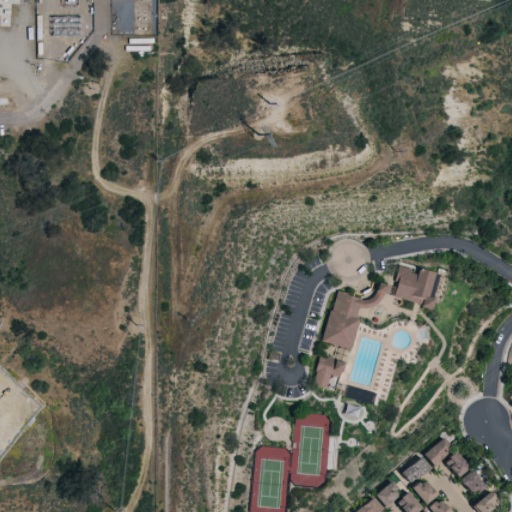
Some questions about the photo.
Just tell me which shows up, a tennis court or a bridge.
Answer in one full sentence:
This aerial view contains a tennis court.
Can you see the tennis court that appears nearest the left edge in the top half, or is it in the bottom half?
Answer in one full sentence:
It is in the bottom half that the tennis court that appears nearest the left edge appears.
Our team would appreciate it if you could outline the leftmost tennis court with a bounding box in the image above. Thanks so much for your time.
[250,446,292,512]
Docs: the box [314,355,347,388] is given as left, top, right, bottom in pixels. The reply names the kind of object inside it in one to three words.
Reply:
building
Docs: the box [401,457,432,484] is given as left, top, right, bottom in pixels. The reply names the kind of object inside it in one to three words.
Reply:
house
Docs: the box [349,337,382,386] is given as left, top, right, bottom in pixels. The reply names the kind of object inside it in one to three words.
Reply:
swimming pool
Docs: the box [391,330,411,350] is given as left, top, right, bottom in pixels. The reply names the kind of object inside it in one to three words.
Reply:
swimming pool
